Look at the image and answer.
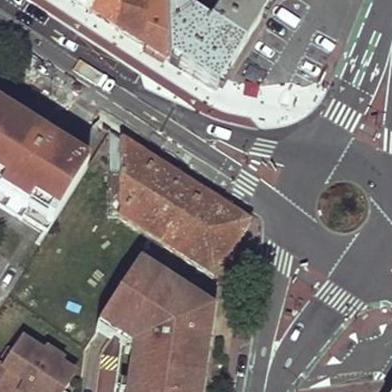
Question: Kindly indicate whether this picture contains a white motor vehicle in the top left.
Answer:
Yes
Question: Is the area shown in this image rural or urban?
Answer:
urban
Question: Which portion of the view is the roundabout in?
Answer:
right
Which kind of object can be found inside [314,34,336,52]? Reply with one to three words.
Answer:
car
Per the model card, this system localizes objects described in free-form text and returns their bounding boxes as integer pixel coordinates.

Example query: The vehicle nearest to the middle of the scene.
[206,125,232,140]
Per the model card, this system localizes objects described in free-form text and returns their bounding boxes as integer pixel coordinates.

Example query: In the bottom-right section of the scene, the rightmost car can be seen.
[288,321,302,342]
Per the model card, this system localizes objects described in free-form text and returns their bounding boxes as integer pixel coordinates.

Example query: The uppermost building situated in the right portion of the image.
[210,0,268,33]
